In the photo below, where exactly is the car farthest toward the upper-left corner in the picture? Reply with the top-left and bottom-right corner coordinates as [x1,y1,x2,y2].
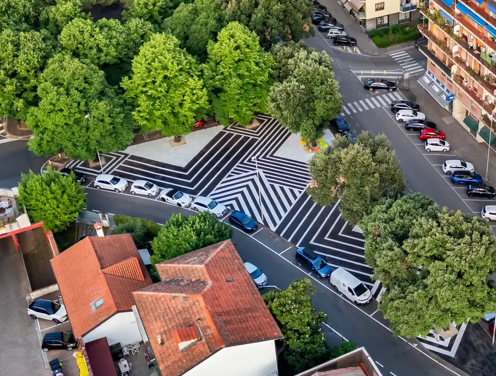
[57,166,90,183]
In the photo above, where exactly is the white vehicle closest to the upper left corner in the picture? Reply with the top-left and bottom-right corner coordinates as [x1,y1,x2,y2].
[92,172,130,195]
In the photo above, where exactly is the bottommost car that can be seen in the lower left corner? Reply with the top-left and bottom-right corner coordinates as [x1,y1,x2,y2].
[37,331,77,354]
